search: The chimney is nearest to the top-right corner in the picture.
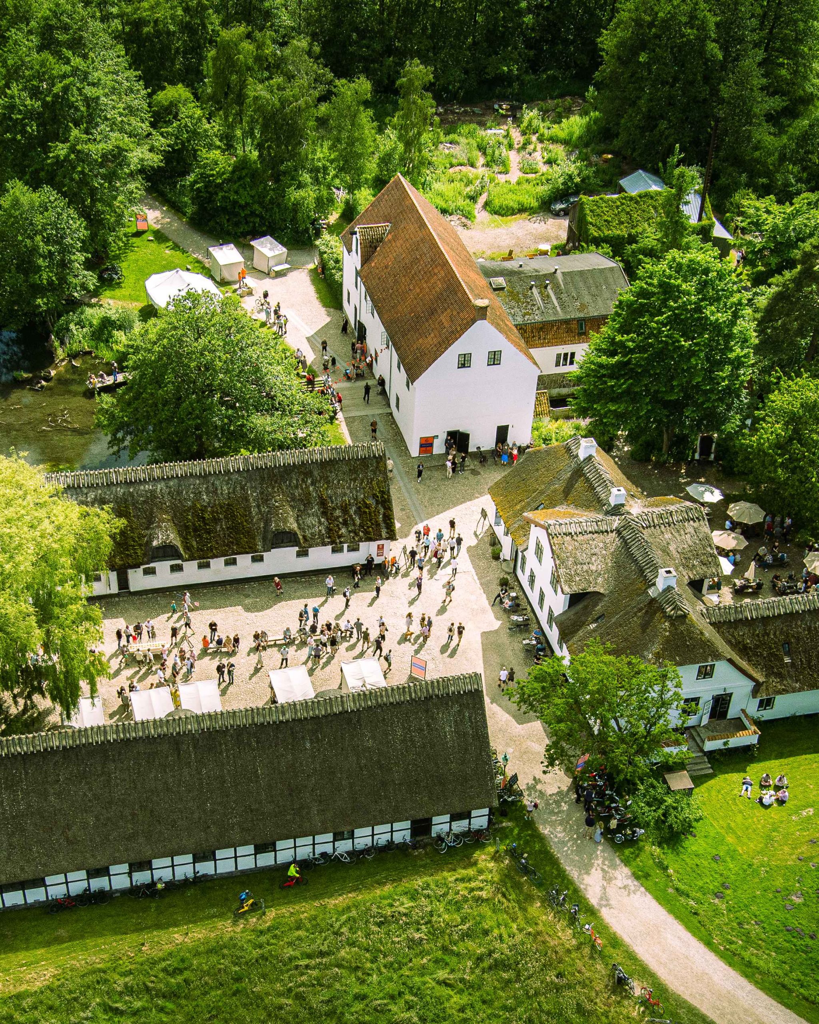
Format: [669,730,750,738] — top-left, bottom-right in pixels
[473,288,492,322]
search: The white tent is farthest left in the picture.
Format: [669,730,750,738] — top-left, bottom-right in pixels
[141,273,233,323]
